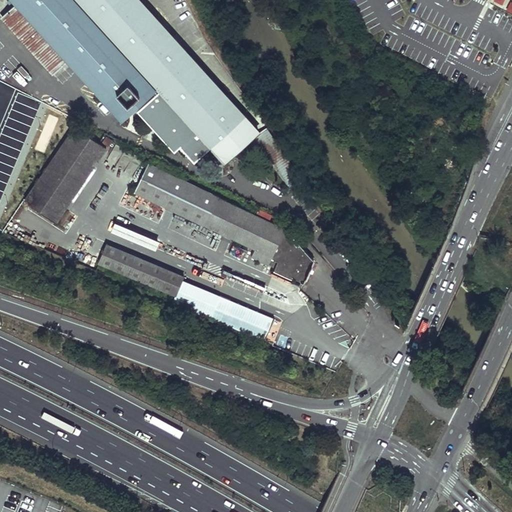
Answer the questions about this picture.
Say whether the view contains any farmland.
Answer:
No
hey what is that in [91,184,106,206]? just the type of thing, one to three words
vehicle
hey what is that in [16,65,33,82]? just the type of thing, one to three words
vehicle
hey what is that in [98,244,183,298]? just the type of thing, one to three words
shed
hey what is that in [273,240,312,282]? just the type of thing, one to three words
building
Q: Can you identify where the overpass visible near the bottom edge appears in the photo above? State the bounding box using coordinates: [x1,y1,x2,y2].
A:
[317,470,367,512]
